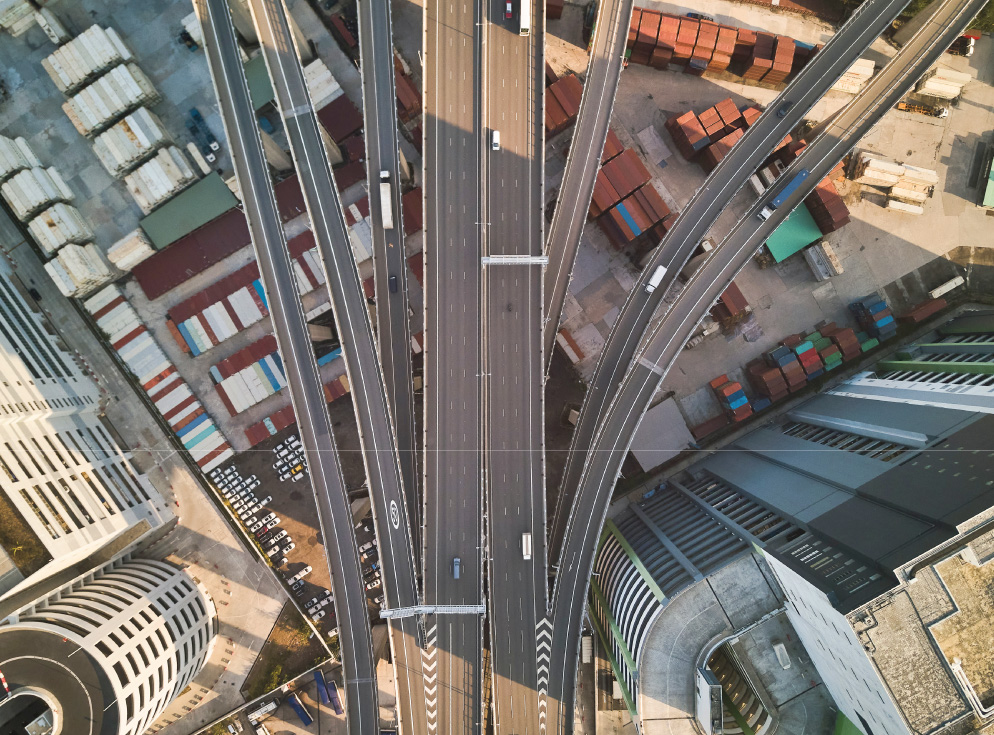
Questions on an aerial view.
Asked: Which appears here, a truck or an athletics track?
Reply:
truck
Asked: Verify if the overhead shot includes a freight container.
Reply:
Yes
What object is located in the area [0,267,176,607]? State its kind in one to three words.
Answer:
warehouse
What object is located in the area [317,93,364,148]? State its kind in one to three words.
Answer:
shed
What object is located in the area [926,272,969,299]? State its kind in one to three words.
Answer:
shipping container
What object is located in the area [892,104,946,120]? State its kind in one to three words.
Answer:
vehicle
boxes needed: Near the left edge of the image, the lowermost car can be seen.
[26,285,41,302]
